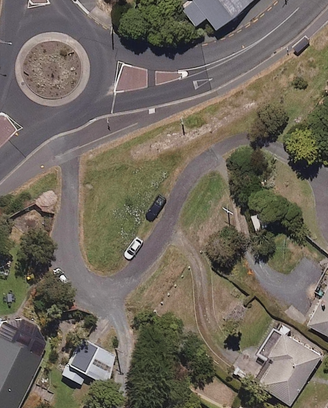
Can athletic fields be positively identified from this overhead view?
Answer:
No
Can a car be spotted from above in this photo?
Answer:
Yes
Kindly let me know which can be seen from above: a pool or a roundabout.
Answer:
roundabout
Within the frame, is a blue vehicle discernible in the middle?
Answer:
No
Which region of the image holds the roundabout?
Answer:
top left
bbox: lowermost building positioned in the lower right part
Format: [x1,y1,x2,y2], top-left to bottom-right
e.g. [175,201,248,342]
[256,325,322,408]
